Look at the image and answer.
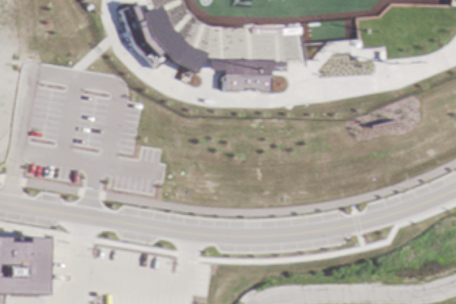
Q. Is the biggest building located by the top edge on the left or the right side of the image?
left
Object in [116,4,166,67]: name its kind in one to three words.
building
